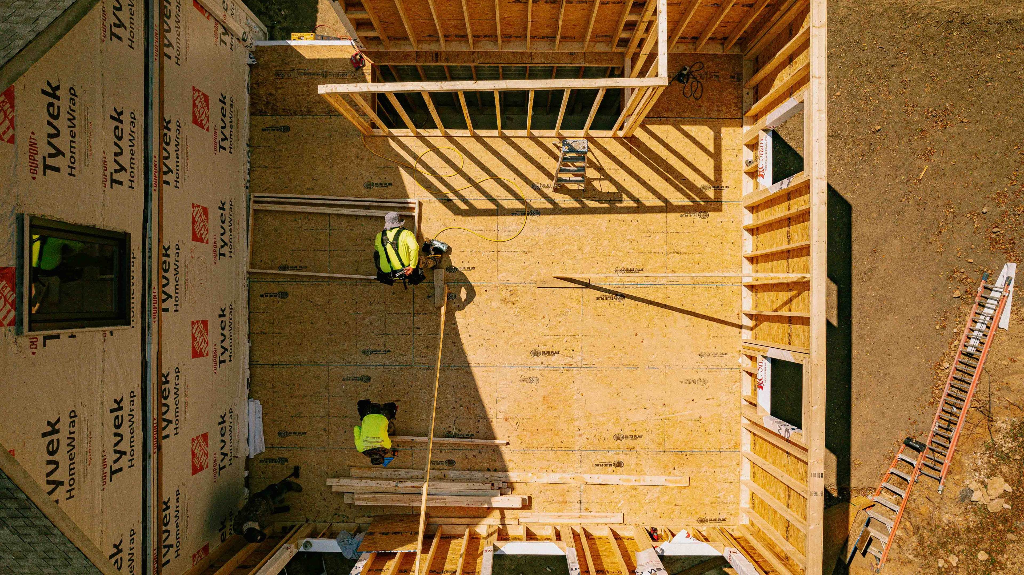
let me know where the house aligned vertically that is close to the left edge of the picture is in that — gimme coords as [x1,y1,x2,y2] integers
[0,0,275,575]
